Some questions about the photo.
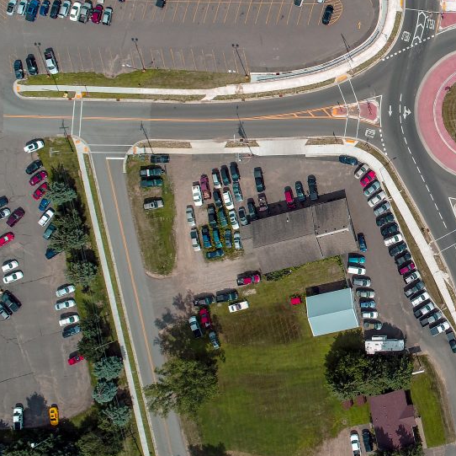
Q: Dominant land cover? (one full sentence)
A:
Most of the picture is covered by paved ground.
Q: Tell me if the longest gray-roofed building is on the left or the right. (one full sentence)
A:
You can find the longest gray-roofed building on the right side of the picture.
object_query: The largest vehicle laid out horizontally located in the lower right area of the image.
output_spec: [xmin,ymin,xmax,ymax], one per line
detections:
[365,334,411,353]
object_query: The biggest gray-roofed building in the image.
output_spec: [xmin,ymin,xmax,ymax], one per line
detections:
[252,198,359,274]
